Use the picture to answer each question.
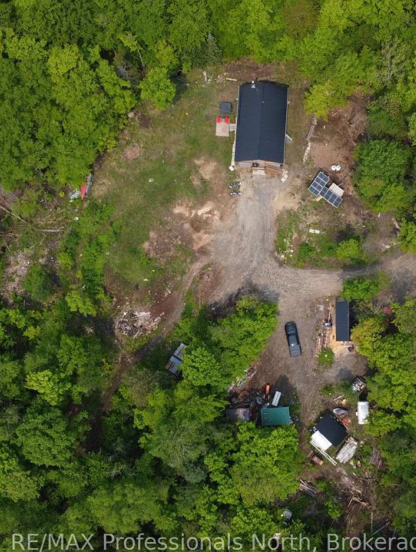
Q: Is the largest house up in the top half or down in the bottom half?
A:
top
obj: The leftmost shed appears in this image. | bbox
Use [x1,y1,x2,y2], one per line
[227,406,251,423]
